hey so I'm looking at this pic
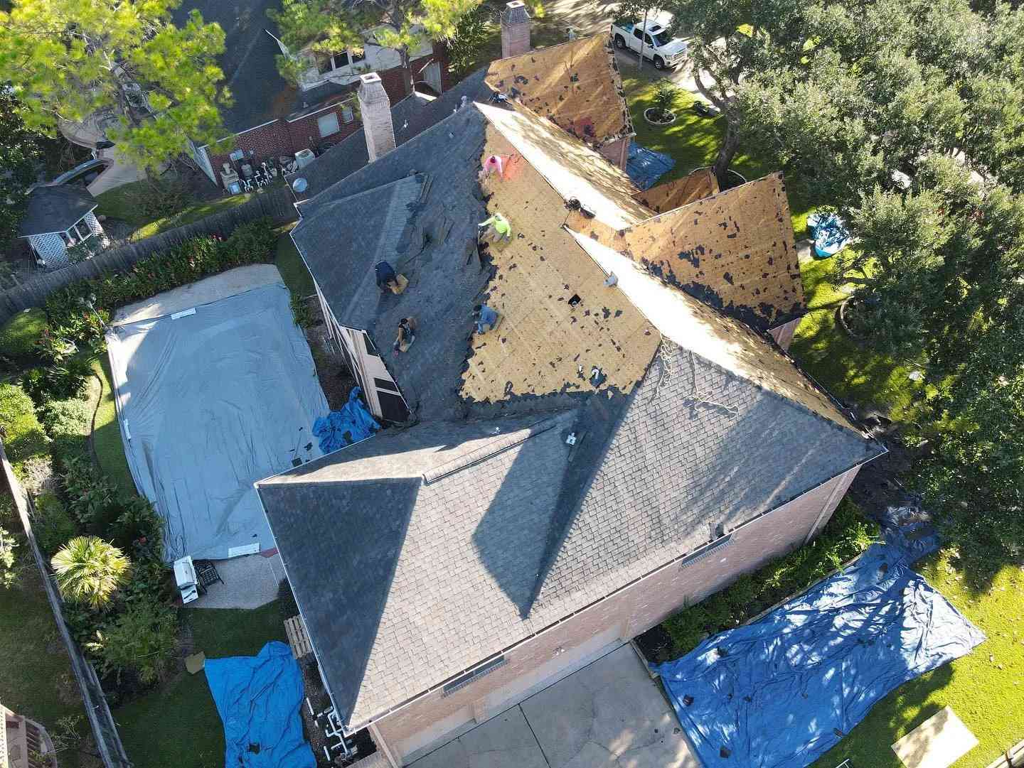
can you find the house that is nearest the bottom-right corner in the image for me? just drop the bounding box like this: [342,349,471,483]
[247,6,894,768]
